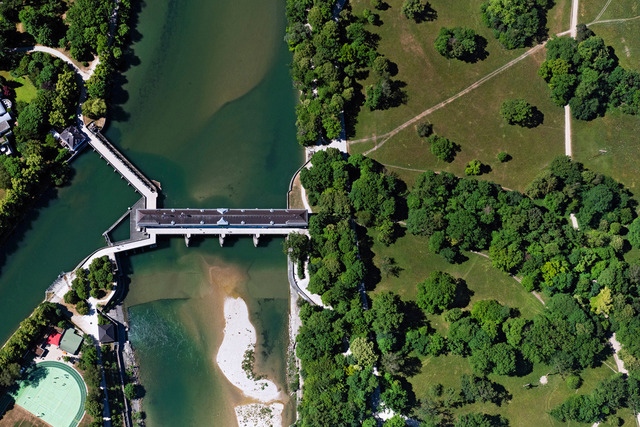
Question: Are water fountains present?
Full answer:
No, the picture doesn't show any water fountain.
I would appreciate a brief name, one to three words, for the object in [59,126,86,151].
house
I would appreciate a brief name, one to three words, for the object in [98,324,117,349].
building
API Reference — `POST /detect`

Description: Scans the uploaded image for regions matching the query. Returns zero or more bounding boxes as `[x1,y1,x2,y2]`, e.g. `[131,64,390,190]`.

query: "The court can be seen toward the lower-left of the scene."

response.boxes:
[4,359,86,427]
